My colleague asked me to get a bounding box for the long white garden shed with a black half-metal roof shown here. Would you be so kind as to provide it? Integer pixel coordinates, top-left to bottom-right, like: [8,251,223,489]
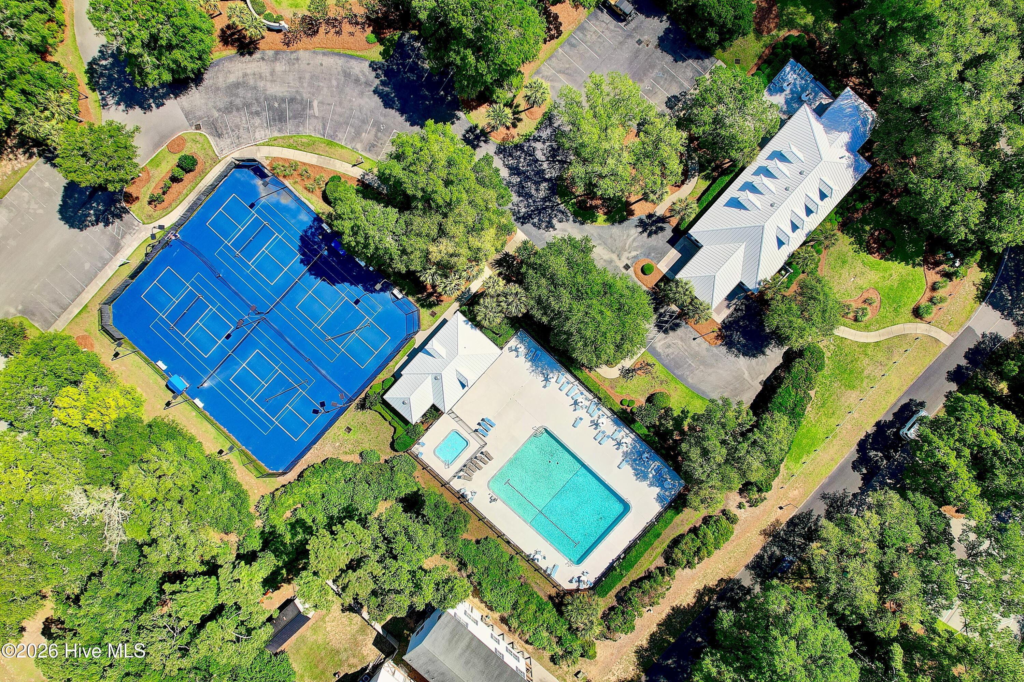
[271,601,316,649]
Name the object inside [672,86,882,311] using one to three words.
building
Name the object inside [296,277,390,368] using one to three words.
sports court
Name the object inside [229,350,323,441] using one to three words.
sports court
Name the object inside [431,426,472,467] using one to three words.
swimming pool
